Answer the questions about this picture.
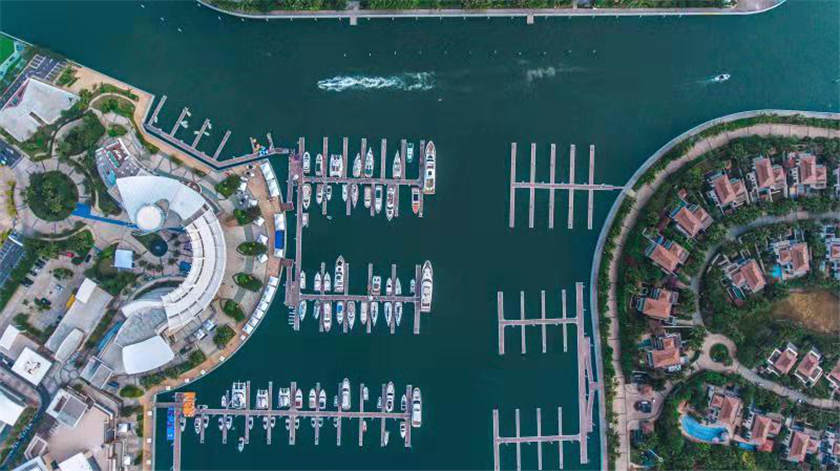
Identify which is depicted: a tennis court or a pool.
pool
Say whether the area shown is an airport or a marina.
marina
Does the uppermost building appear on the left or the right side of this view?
left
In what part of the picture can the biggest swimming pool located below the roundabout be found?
bottom right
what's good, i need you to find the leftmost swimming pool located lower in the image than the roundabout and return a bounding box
[681,414,729,441]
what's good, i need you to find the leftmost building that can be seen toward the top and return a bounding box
[0,79,84,142]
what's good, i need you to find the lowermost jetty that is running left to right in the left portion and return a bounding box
[182,381,413,447]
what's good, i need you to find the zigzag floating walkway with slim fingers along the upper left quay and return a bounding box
[146,95,290,167]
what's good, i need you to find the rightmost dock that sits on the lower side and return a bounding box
[576,282,600,464]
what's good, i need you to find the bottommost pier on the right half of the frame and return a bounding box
[491,407,581,471]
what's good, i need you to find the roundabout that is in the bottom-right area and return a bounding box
[701,333,737,369]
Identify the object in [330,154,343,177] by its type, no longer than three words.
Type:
boat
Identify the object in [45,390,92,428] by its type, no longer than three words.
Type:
building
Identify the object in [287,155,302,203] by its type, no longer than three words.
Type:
pier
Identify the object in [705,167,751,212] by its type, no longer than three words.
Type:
house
